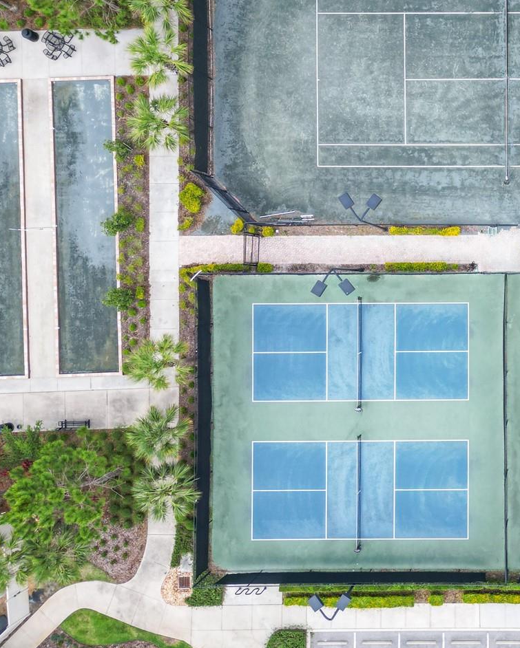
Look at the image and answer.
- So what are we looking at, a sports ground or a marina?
sports ground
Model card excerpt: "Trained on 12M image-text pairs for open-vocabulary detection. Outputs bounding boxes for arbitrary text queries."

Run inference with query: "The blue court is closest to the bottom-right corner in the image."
[251,441,469,541]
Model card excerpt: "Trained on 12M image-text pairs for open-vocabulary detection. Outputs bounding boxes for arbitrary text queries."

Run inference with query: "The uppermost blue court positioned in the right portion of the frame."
[251,302,469,402]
